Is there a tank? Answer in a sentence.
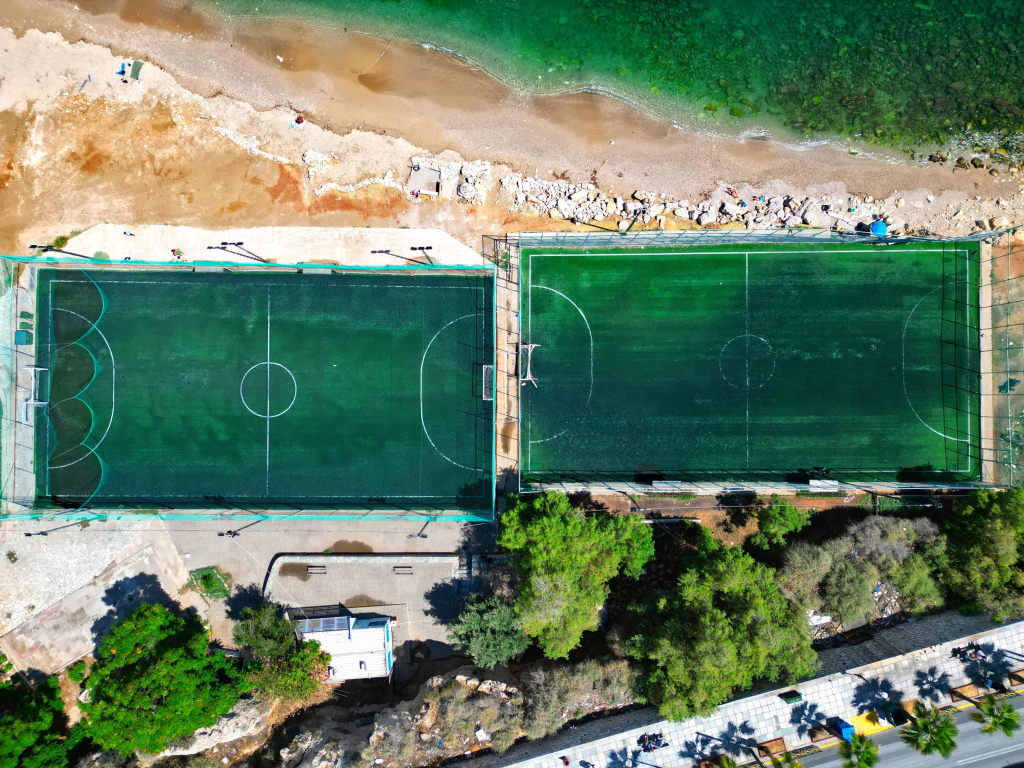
No, there isn't any tank down there.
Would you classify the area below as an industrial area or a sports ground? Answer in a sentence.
The area seen from above is a sports ground.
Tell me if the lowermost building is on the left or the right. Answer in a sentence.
The lowermost building is on the left side of the image.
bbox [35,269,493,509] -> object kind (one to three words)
sports field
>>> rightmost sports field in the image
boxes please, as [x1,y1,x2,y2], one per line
[521,241,981,482]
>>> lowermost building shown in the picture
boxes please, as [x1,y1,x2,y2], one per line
[297,608,394,683]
